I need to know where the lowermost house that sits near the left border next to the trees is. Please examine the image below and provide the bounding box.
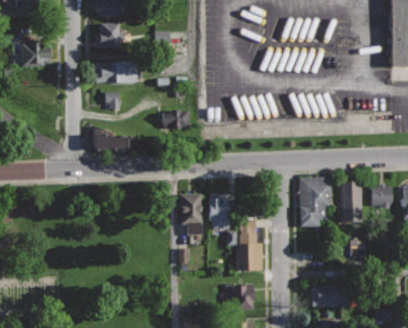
[14,42,51,68]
